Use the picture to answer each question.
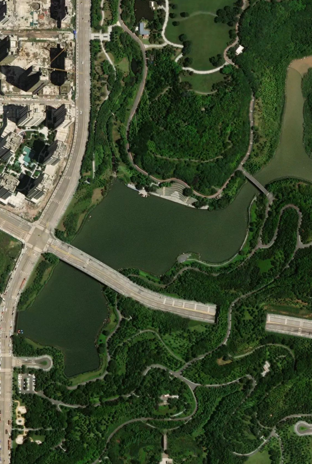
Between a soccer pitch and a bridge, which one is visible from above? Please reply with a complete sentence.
I can see a bridge in this picture.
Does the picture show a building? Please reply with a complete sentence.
Yes, a building appears in the view.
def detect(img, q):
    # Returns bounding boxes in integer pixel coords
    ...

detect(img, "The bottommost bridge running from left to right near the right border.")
[265,316,312,337]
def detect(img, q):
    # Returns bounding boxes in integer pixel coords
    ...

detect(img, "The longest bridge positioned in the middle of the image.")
[42,235,215,321]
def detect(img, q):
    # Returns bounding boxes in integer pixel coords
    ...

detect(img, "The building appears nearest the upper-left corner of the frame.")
[0,0,15,29]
